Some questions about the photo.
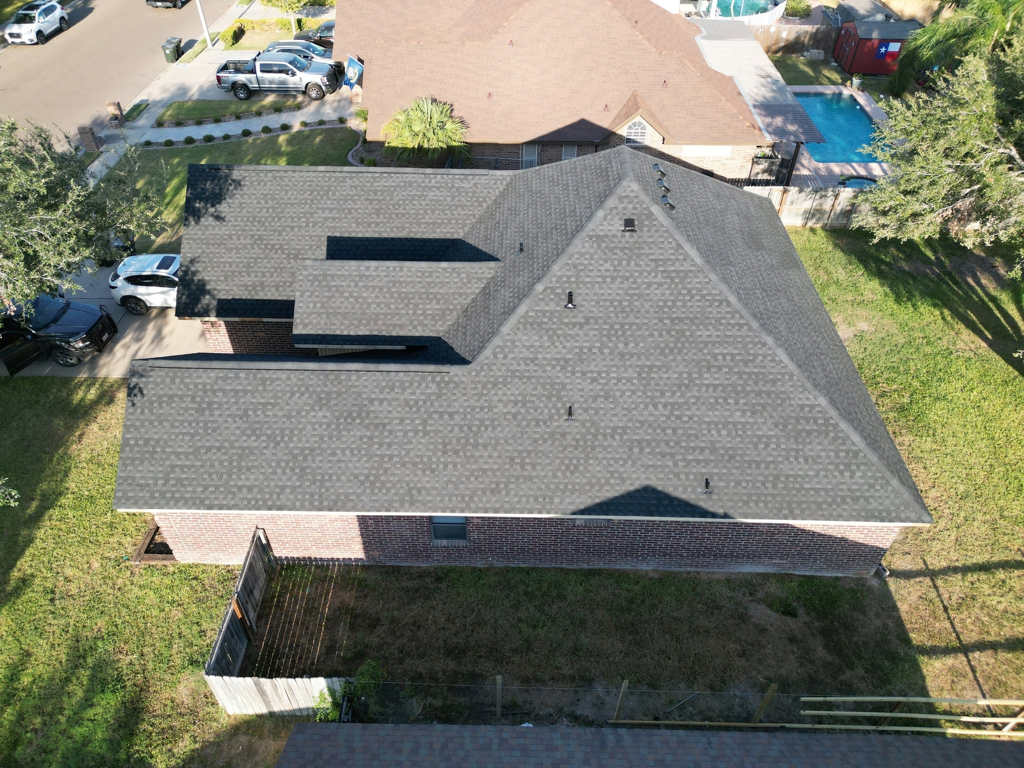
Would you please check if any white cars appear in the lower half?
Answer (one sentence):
No, no white car appears in the lower half.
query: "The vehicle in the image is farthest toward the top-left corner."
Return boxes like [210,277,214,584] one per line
[1,1,68,45]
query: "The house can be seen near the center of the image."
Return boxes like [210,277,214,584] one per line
[112,146,939,578]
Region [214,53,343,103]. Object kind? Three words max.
truck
